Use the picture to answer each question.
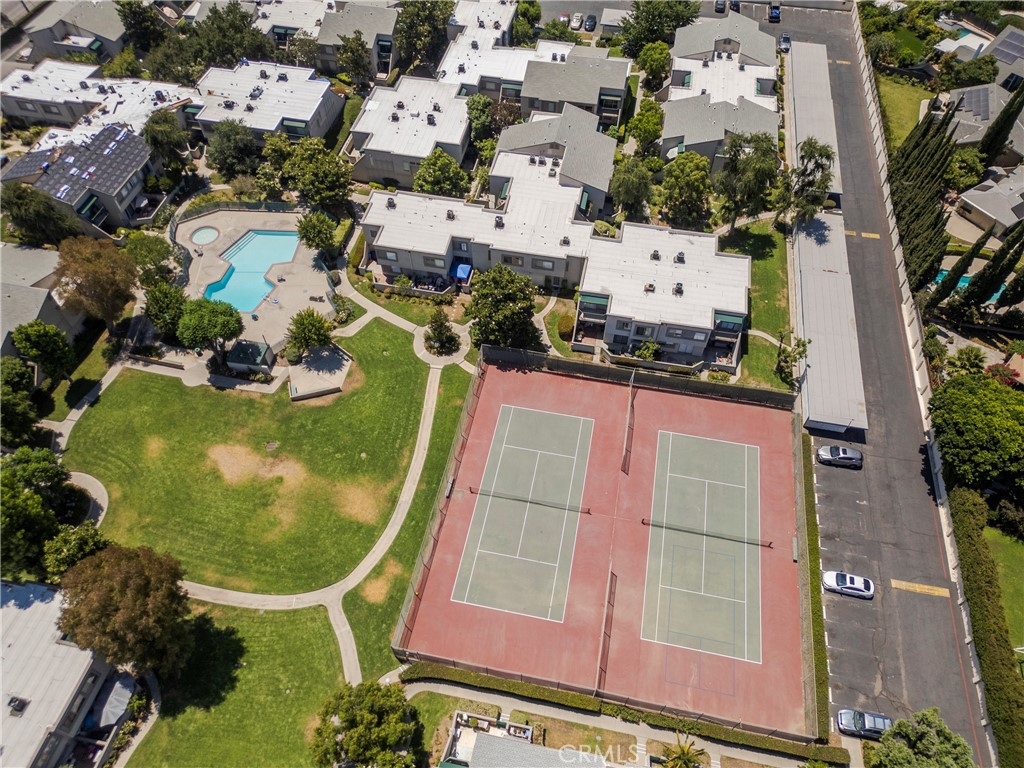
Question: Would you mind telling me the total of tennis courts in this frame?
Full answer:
The picture shows 2 tennis courts.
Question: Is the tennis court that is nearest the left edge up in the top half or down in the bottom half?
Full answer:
The tennis court that is nearest the left edge is in the bottom half of the image.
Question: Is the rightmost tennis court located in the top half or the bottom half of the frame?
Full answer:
The rightmost tennis court is in the bottom half of the image.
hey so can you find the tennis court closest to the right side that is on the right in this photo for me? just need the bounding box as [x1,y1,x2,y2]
[596,385,806,735]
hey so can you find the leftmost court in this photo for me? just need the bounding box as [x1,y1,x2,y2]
[398,362,638,690]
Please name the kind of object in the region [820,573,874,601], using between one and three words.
car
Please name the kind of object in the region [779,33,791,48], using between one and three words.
vehicle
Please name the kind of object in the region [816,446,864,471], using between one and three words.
car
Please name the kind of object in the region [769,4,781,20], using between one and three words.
vehicle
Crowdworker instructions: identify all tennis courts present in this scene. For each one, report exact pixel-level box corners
[398,362,638,690]
[596,385,806,735]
